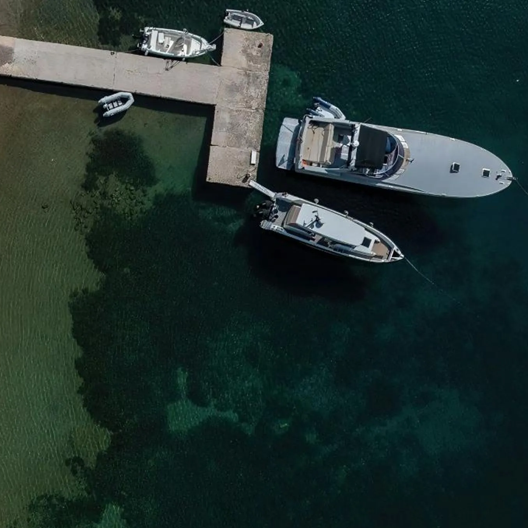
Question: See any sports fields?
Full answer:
No, this view has no sports field in it.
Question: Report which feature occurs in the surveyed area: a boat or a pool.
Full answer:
There is a boat in the scene.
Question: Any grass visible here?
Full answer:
No, no grass is visible.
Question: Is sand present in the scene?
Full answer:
Yes, sand can be seen from above here.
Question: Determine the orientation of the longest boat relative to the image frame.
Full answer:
The longest boat runs horizontally in the image.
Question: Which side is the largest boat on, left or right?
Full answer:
You can find the largest boat on the right side of the picture.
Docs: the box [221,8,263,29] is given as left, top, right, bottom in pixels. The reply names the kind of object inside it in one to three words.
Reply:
boat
